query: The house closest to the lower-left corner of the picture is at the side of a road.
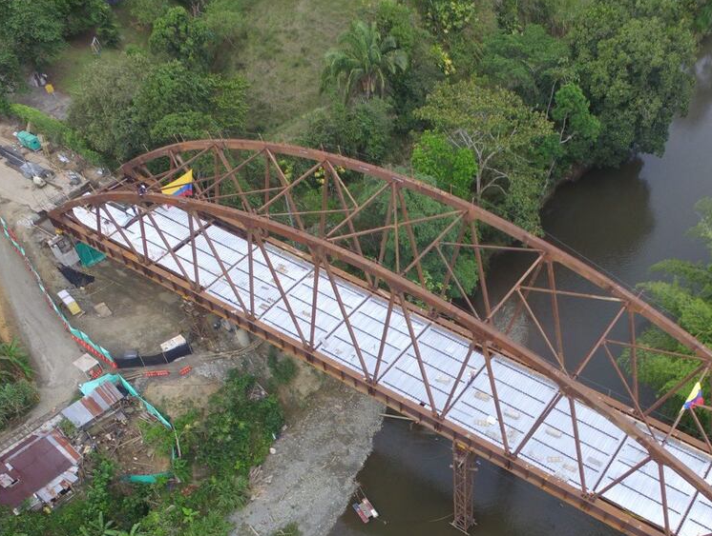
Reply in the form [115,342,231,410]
[0,429,88,507]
